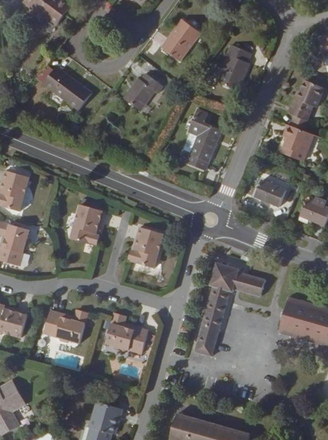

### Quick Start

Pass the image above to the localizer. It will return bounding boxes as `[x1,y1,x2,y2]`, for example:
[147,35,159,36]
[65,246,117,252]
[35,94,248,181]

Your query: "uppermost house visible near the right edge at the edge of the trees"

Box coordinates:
[288,79,323,126]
